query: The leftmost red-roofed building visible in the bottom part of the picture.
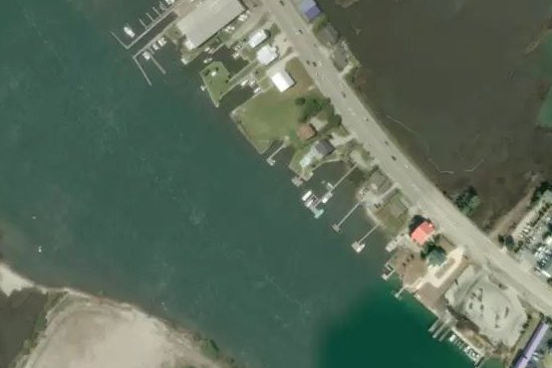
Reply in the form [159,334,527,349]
[409,222,437,247]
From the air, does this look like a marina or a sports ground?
marina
